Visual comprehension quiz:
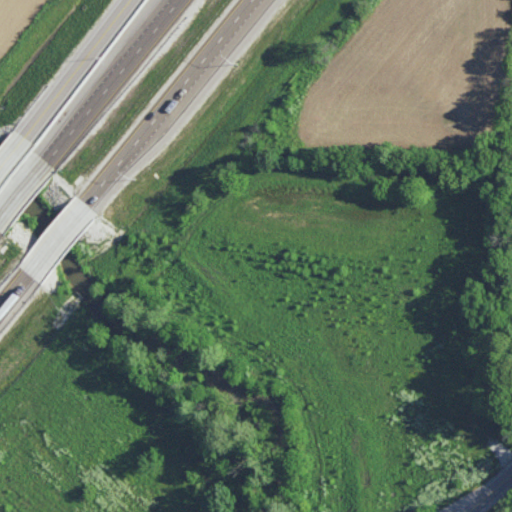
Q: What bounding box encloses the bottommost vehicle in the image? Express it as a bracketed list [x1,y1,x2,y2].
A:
[0,286,26,321]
